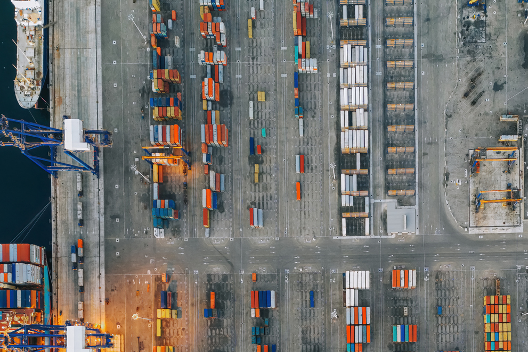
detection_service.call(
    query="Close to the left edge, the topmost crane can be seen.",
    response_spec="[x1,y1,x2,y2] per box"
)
[0,117,116,182]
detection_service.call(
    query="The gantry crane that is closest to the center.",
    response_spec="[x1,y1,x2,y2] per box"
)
[140,143,189,169]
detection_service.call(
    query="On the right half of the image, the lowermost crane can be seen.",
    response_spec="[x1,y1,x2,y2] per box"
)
[477,186,523,213]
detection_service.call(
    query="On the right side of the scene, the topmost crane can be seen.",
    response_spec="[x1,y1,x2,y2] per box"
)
[473,145,519,171]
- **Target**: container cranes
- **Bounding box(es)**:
[0,322,118,352]
[473,145,519,171]
[140,143,189,169]
[477,186,523,213]
[0,117,116,182]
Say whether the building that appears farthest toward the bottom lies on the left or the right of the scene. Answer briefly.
right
